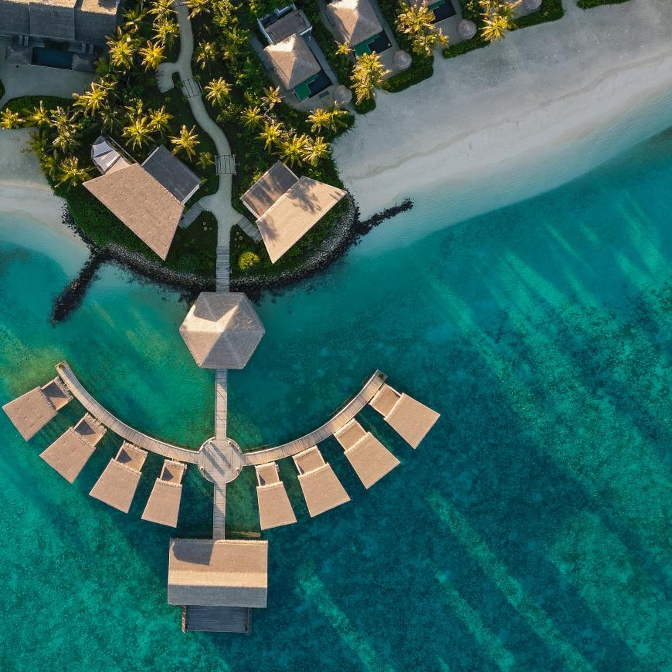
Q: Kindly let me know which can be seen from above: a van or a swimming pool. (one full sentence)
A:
This aerial view contains a swimming pool.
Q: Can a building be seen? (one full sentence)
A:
Yes, a building is visible in the scene.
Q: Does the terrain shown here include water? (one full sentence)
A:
Yes, water shows up in the scene.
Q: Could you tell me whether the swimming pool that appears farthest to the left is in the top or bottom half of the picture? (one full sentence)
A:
The swimming pool that appears farthest to the left sits in the top half of the picture.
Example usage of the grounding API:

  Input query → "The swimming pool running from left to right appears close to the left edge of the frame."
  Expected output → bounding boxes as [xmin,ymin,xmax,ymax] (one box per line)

[32,45,74,70]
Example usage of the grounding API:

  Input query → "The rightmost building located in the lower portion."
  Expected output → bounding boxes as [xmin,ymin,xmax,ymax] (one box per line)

[367,381,440,449]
